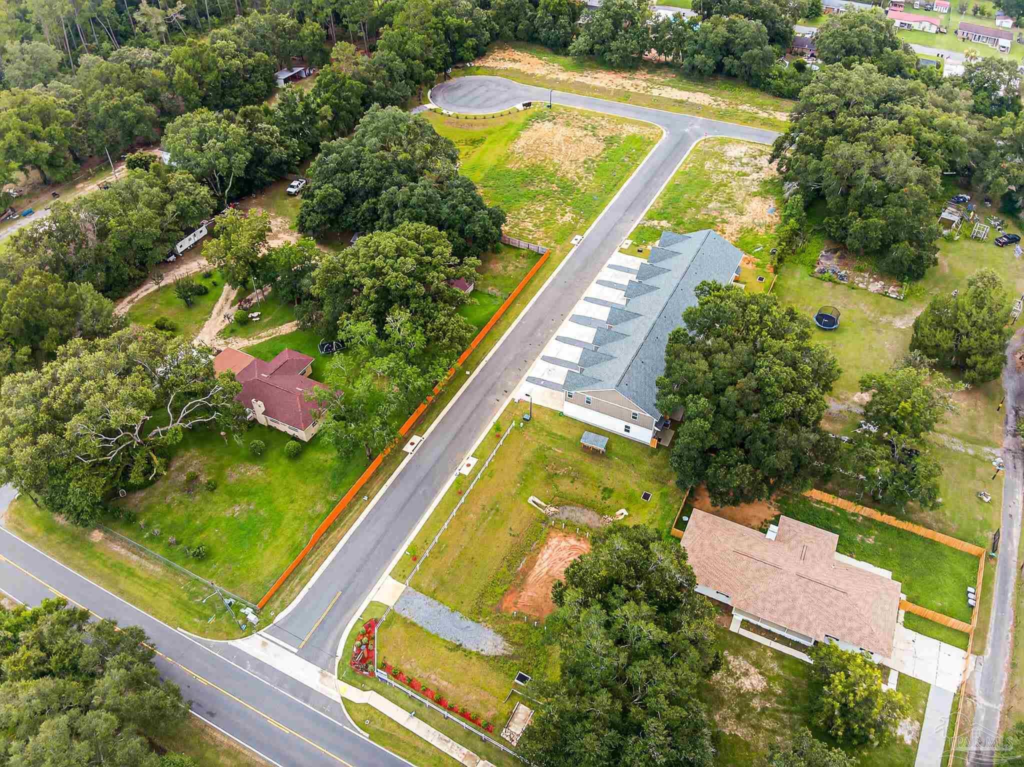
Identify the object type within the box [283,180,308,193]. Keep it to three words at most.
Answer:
vehicle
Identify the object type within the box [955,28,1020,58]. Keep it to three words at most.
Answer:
house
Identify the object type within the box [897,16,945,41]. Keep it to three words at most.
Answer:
house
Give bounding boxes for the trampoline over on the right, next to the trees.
[816,305,843,329]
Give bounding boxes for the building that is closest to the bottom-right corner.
[676,511,905,668]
